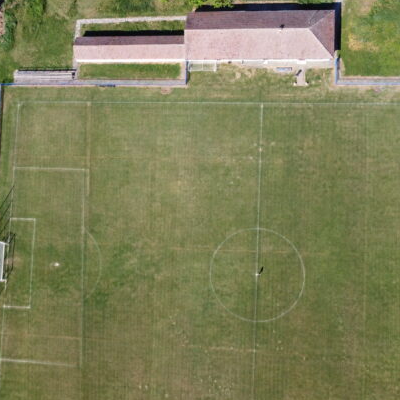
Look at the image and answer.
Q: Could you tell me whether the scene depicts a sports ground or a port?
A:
sports ground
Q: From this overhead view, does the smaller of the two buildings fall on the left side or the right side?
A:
left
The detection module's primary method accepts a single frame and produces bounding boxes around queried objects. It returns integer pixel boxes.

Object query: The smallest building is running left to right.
[73,35,186,65]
